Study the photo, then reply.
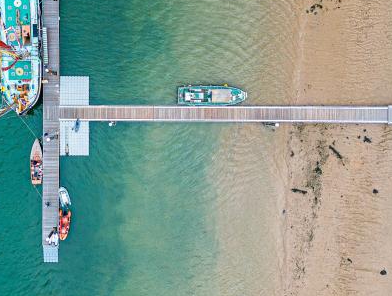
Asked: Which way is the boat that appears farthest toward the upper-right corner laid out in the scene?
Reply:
horizontally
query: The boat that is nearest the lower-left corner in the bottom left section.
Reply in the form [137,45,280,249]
[59,209,71,241]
